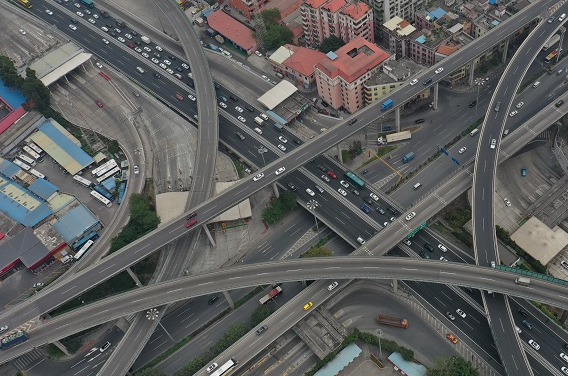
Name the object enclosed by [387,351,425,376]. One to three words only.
shed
